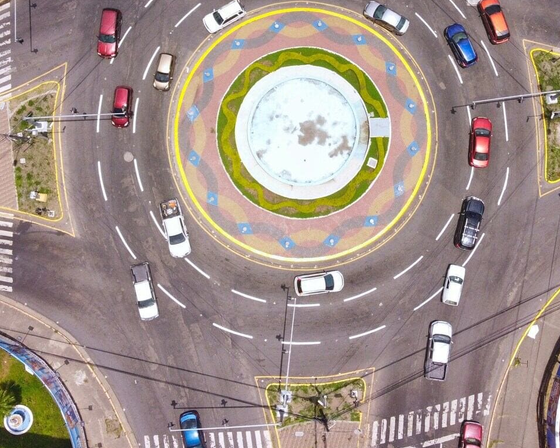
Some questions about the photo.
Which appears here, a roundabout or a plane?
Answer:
roundabout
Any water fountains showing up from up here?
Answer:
Yes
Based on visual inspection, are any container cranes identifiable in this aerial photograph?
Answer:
No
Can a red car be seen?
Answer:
Yes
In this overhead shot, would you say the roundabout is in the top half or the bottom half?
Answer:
top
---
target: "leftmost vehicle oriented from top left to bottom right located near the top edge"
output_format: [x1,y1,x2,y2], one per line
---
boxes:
[363,0,412,36]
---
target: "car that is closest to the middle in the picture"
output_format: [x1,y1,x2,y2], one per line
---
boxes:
[294,268,343,296]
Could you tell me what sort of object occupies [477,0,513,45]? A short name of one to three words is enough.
car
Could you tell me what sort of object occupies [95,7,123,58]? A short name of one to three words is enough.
car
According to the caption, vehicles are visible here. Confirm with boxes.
[469,117,494,168]
[294,268,343,296]
[443,21,480,70]
[477,0,513,45]
[151,52,176,92]
[159,198,190,257]
[203,0,247,32]
[441,264,467,306]
[109,85,134,128]
[95,7,123,58]
[426,320,454,382]
[363,0,412,36]
[129,262,160,320]
[454,196,485,250]
[459,420,486,448]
